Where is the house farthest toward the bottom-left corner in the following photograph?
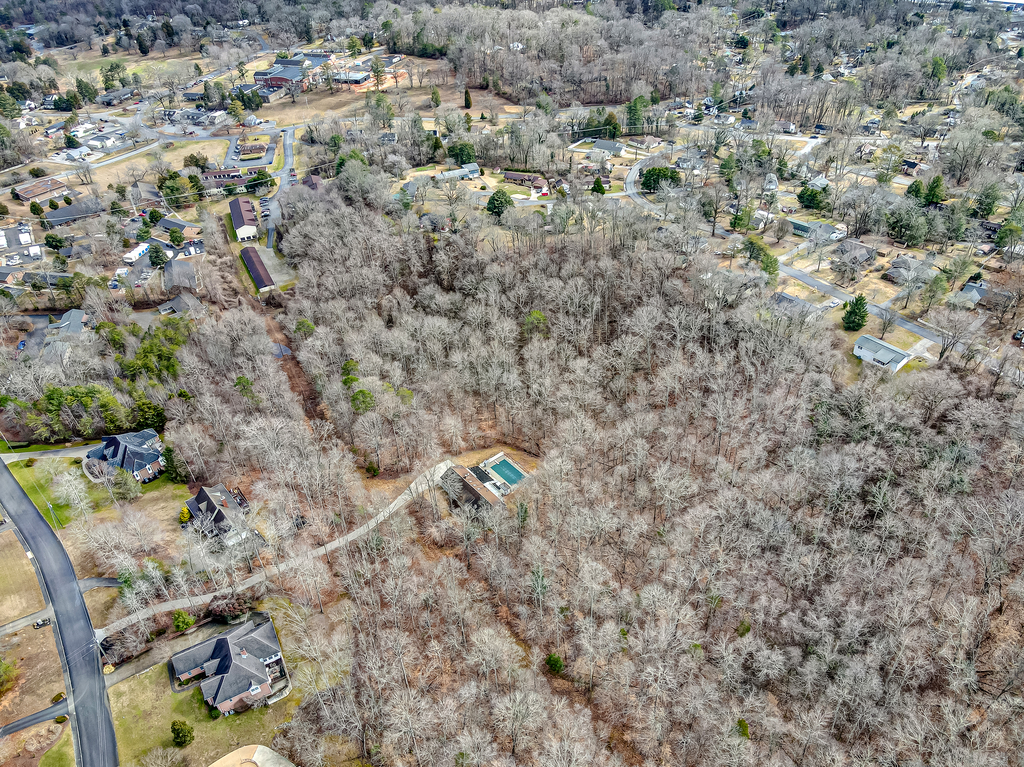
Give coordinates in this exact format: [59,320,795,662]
[172,610,281,711]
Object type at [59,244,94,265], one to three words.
building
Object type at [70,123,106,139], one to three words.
building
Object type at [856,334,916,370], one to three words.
house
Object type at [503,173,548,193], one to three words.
house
